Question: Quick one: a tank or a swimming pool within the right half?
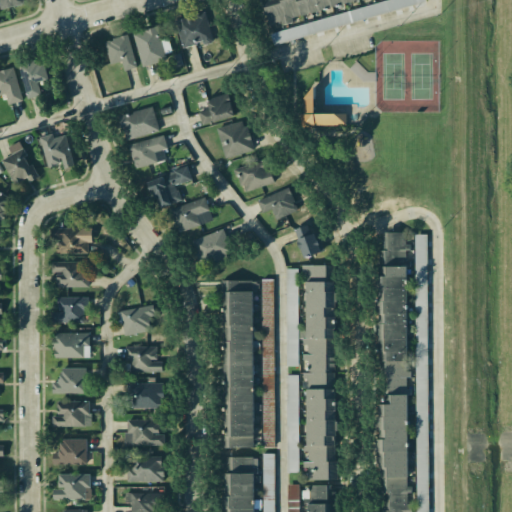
swimming pool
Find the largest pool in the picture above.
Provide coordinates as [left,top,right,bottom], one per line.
[323,60,377,124]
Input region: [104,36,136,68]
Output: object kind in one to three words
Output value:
house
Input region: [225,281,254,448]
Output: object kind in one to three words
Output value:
building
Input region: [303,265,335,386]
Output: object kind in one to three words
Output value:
building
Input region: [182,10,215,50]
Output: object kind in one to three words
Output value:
house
